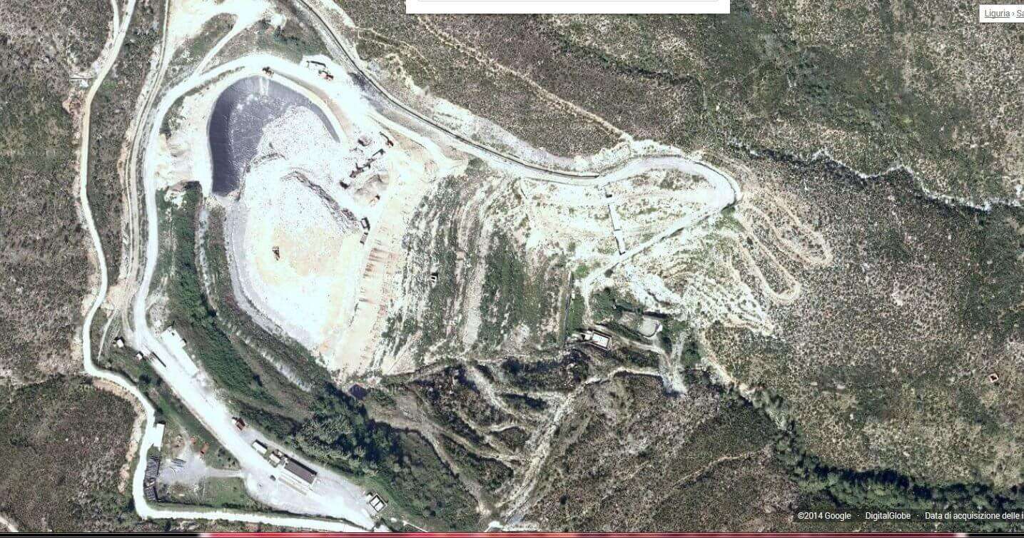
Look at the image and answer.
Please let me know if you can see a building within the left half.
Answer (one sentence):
Yes, you'll find a building within the left half.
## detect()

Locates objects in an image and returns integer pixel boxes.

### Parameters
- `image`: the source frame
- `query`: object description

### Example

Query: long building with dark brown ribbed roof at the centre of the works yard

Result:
[281,460,317,487]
